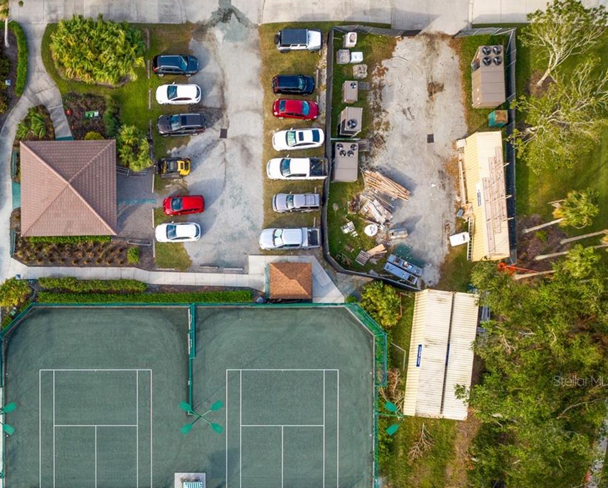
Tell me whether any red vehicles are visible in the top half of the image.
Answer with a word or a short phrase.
Yes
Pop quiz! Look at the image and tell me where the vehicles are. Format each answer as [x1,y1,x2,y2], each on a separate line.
[153,52,199,77]
[266,156,328,182]
[259,226,322,250]
[157,159,188,178]
[271,98,318,122]
[155,221,202,242]
[162,194,205,216]
[155,82,202,107]
[270,73,315,97]
[270,191,322,214]
[272,27,321,53]
[157,111,207,136]
[271,128,325,152]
